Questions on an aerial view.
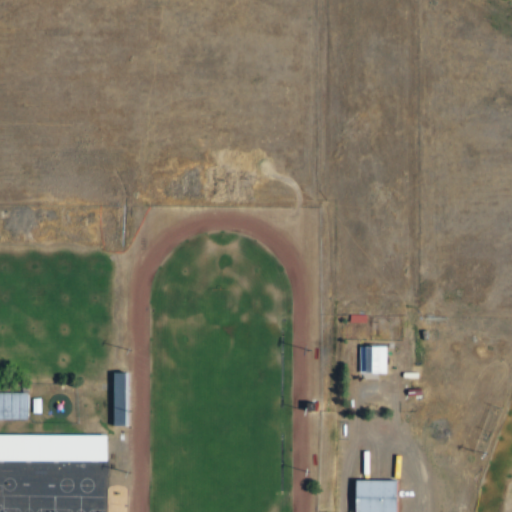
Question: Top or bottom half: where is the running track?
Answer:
bottom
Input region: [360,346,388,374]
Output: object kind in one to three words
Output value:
house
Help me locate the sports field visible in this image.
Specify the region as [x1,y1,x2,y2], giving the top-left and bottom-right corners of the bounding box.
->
[150,230,294,512]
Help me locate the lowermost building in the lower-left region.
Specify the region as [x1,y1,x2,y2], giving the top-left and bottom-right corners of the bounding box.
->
[0,432,108,463]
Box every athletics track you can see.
[130,210,314,512]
